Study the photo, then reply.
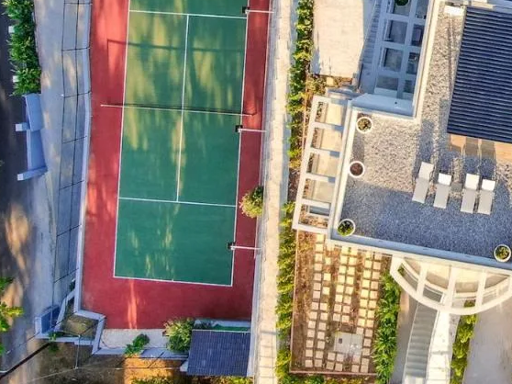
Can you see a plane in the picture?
No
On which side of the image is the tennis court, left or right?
left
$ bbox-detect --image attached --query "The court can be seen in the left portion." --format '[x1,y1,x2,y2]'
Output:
[84,0,272,331]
